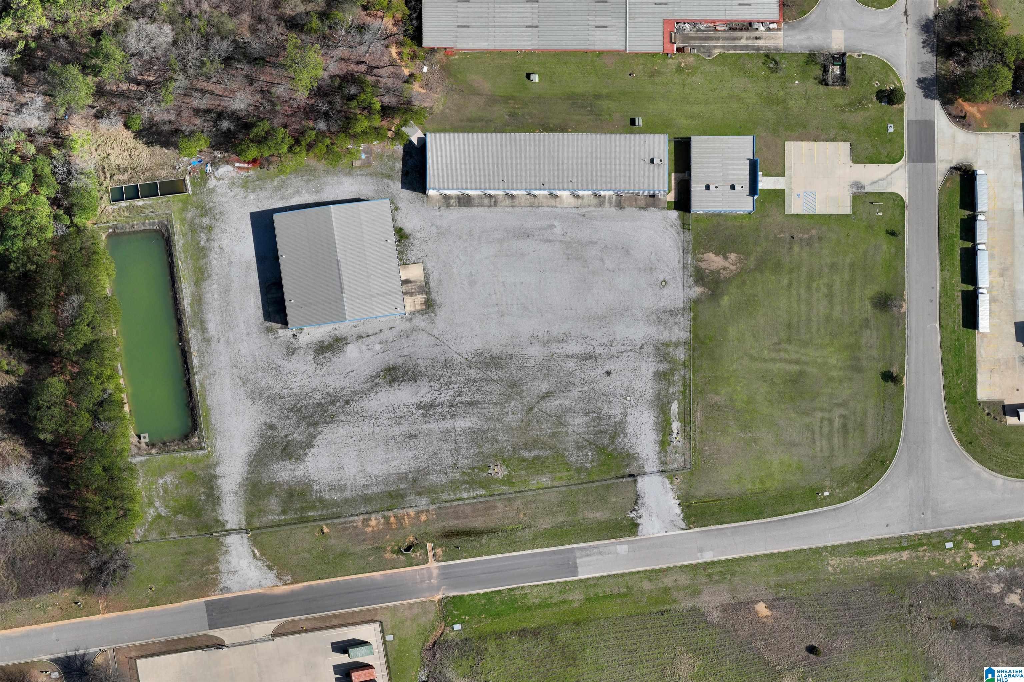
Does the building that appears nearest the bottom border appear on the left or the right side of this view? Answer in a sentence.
The building that appears nearest the bottom border is on the left side of the image.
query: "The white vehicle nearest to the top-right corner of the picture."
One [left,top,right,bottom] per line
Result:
[972,171,987,212]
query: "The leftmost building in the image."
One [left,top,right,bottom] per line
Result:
[273,199,407,329]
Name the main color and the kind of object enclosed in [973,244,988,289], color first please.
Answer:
white vehicle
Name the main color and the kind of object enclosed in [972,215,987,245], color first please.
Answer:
white vehicle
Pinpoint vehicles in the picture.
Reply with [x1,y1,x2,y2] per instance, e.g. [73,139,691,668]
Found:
[972,171,987,212]
[1013,408,1024,421]
[973,288,989,332]
[972,215,987,245]
[973,244,988,289]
